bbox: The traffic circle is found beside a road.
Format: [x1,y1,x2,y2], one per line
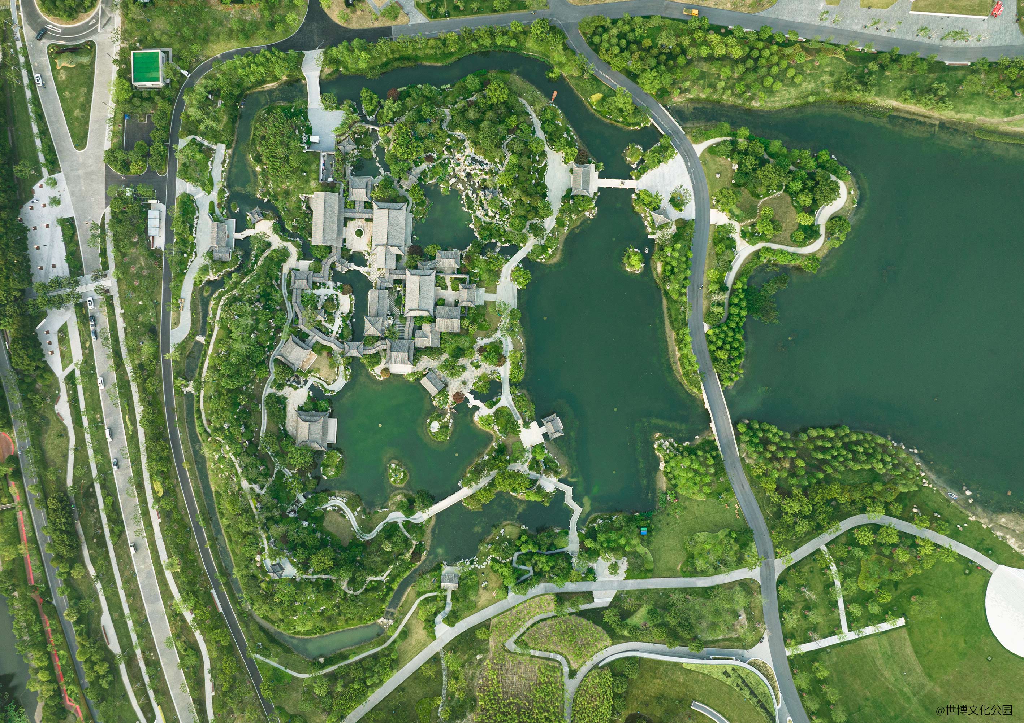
[20,0,117,43]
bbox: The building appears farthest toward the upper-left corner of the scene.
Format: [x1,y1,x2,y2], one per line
[131,50,174,89]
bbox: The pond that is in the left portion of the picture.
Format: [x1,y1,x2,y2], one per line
[288,130,519,514]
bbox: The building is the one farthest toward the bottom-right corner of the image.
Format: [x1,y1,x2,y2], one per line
[985,563,1024,659]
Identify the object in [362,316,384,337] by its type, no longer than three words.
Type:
building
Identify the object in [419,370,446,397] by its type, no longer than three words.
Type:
building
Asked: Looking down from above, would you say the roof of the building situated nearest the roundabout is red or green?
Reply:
green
